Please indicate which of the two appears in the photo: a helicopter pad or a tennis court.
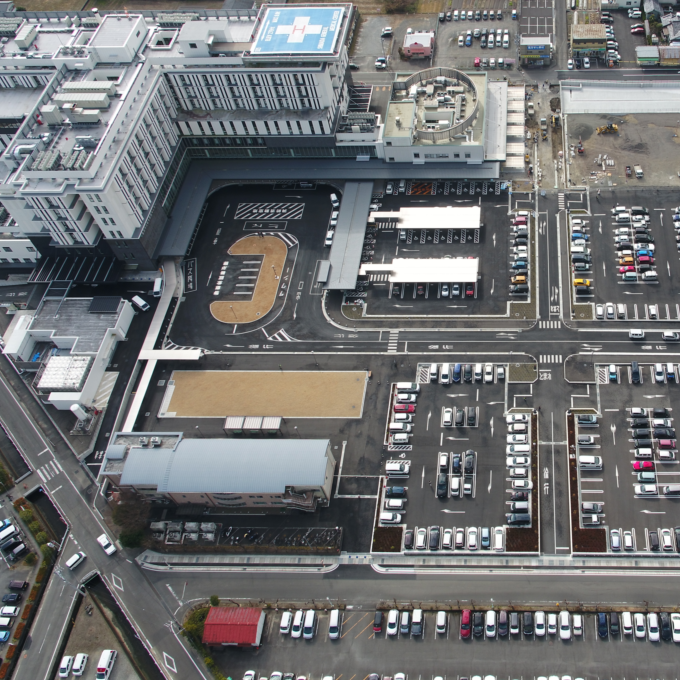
helicopter pad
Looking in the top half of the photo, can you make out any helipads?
Yes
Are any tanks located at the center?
No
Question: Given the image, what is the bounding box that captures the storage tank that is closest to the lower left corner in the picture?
[62,398,103,435]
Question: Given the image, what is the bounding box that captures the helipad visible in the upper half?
[241,2,353,64]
